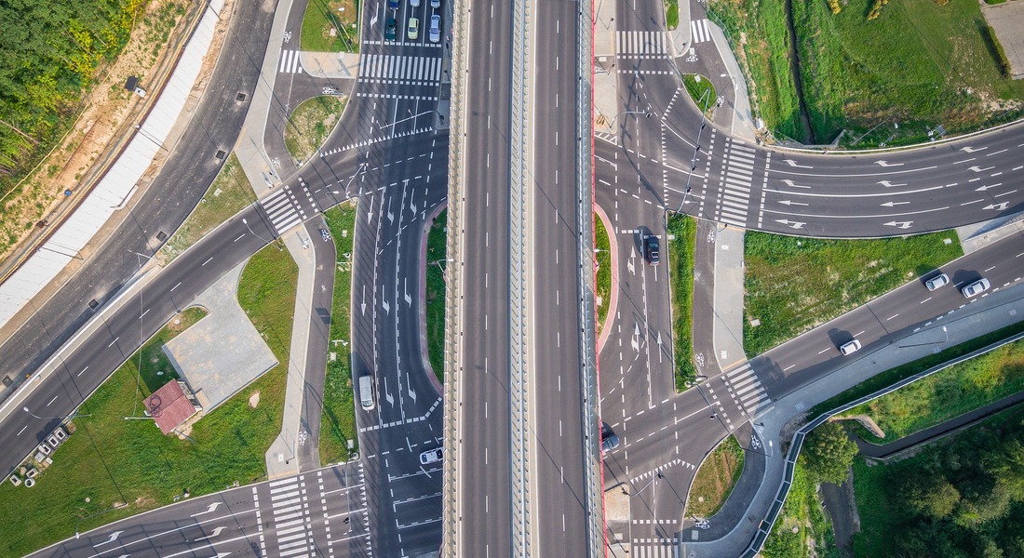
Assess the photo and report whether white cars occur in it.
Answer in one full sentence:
Yes, there's a white car here.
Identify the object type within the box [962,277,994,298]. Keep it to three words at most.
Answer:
car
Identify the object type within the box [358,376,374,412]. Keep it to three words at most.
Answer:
vehicle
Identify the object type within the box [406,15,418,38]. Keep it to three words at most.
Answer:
vehicle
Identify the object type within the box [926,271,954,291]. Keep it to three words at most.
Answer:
car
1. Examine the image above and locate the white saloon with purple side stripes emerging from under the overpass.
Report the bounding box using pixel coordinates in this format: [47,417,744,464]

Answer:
[418,448,442,466]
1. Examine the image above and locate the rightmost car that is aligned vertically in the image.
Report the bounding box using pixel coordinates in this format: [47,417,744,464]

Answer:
[647,235,661,265]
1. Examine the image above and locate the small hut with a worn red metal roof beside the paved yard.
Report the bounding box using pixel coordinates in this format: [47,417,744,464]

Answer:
[144,373,225,435]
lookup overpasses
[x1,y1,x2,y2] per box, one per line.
[440,0,603,558]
